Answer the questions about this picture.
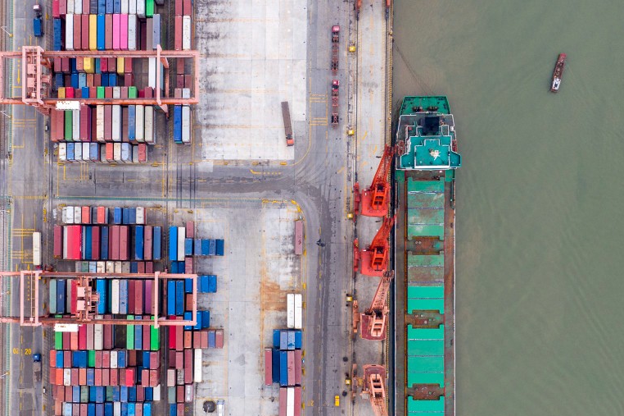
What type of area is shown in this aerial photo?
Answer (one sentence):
What you see here is a port.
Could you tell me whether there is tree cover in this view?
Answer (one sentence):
No, there's no tree cover in this view.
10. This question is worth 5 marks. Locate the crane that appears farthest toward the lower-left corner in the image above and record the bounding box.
[0,260,198,334]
